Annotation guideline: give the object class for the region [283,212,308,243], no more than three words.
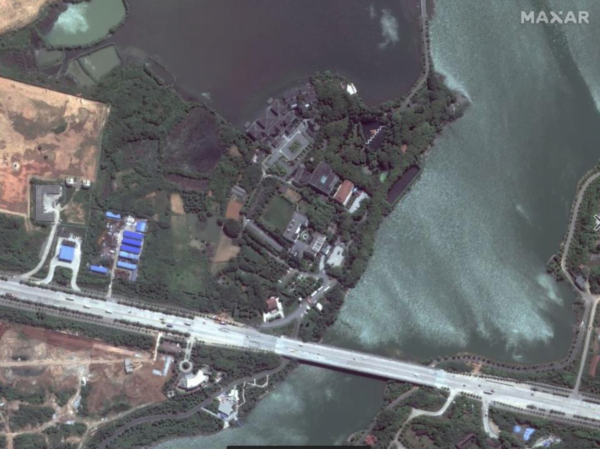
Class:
building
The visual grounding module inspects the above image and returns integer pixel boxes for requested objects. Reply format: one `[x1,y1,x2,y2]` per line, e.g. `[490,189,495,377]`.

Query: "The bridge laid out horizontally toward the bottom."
[270,335,446,389]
